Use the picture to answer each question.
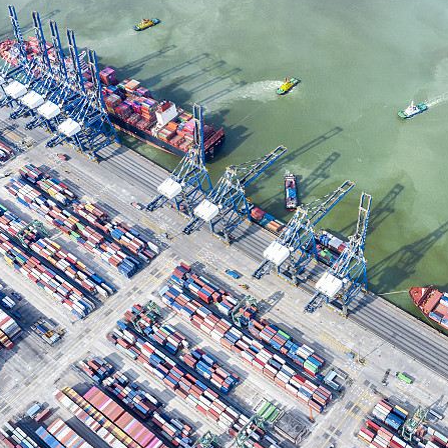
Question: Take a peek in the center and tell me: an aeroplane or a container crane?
container crane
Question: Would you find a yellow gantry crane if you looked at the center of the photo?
No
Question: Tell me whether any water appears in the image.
Yes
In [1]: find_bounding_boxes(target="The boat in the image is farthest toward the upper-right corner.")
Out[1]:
[401,101,428,116]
